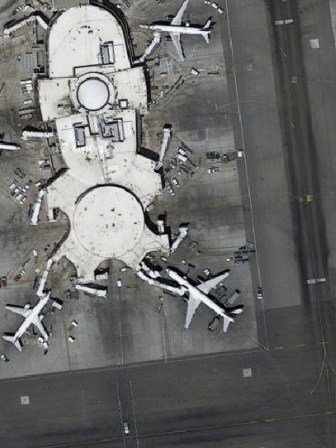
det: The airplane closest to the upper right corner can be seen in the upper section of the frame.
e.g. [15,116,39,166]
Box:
[150,0,215,61]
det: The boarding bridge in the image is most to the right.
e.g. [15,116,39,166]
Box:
[170,223,186,254]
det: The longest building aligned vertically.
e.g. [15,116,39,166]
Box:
[35,4,170,279]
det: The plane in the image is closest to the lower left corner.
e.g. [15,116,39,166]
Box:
[5,292,50,349]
